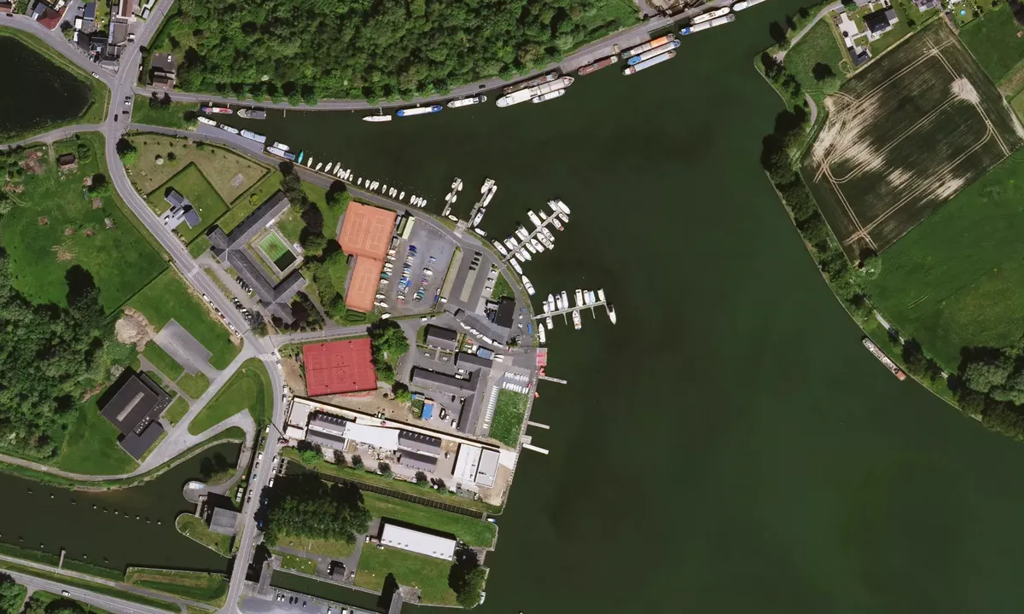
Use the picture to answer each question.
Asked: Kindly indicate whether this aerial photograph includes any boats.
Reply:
Yes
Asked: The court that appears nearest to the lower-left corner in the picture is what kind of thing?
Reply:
tennis court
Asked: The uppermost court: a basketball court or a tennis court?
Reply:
tennis court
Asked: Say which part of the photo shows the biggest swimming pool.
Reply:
left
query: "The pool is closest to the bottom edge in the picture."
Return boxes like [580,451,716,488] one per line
[252,226,304,278]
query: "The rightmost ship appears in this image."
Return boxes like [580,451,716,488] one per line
[862,339,907,380]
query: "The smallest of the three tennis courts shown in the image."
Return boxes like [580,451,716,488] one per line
[347,258,383,312]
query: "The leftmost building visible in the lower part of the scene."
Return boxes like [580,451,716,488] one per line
[99,374,171,460]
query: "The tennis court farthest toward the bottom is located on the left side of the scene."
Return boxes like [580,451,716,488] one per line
[303,338,377,396]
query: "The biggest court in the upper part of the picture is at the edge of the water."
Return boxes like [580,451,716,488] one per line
[339,201,397,261]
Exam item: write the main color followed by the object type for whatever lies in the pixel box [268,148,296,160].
white boat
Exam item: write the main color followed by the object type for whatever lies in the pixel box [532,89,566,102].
white boat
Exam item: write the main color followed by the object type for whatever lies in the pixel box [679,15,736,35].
white ship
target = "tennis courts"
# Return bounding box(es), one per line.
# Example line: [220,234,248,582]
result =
[347,258,383,312]
[339,201,397,261]
[303,338,377,396]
